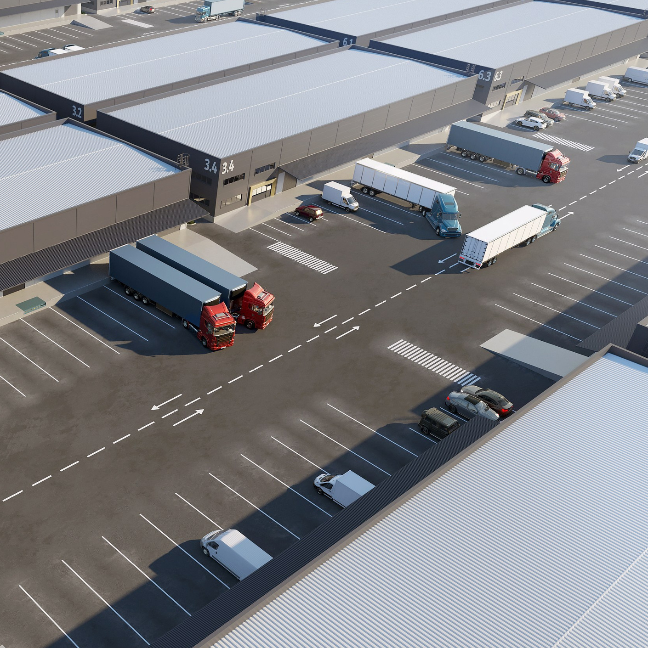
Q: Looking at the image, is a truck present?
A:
Yes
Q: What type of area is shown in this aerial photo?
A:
industrial area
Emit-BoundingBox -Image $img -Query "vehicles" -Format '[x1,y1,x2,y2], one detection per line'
[564,87,600,110]
[586,79,619,102]
[625,67,648,85]
[516,118,549,131]
[317,471,377,509]
[109,245,233,350]
[321,180,362,213]
[293,205,325,222]
[136,236,272,327]
[140,5,157,13]
[198,0,249,22]
[416,411,456,441]
[448,121,573,184]
[599,76,630,98]
[626,137,648,163]
[538,106,568,122]
[445,393,502,424]
[461,202,562,269]
[457,385,516,417]
[352,159,472,236]
[200,530,272,580]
